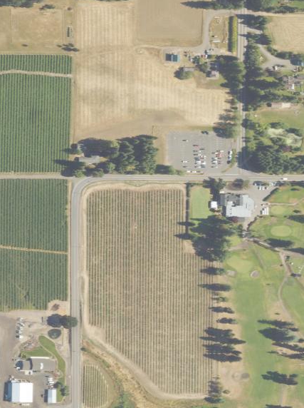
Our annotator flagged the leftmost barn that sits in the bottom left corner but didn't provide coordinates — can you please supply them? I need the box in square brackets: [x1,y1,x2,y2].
[9,383,32,402]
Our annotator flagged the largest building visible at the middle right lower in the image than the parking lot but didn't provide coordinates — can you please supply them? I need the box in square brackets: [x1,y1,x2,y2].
[224,195,255,216]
